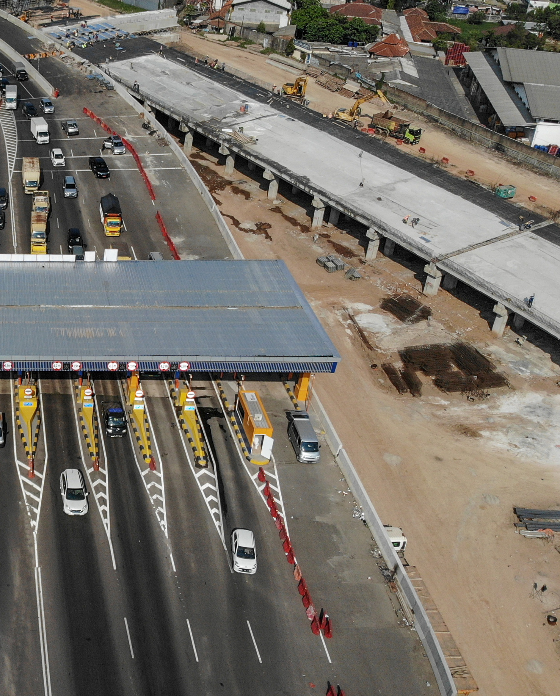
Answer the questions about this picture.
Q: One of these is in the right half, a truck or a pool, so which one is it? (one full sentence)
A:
You can see a truck in the right half.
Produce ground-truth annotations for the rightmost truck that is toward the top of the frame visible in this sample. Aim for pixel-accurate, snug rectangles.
[373,109,430,143]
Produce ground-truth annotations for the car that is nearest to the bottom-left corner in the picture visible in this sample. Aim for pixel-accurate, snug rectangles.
[59,469,91,517]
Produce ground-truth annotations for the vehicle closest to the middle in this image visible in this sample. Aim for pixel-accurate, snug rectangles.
[288,410,322,461]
